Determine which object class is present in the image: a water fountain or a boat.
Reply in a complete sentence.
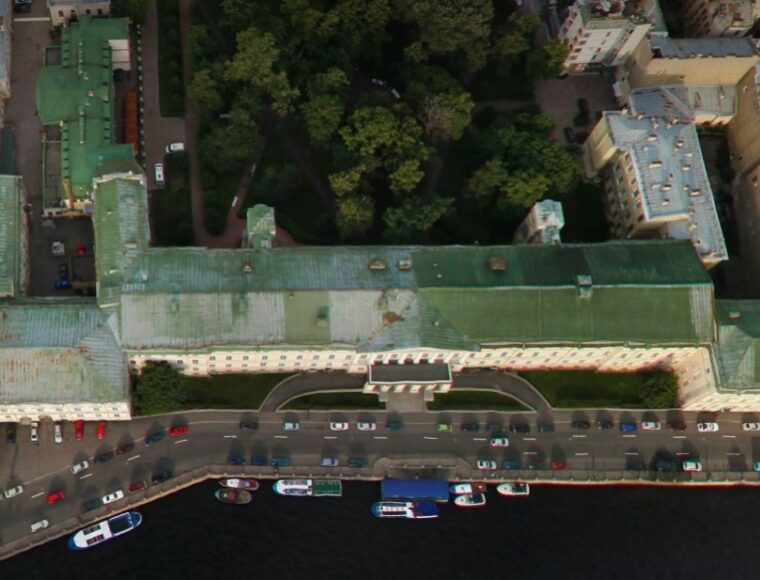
The image shows a boat.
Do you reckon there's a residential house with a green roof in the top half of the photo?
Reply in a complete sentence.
Yes, a residential house with a green roof shows up in the top half of the photo.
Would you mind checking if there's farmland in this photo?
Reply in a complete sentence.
No, the scene doesn't show any farmland.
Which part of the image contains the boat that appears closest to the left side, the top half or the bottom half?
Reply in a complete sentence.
It is in the bottom half that the boat that appears closest to the left side appears.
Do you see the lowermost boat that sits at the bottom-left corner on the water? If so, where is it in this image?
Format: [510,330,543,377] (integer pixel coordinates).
[70,513,142,550]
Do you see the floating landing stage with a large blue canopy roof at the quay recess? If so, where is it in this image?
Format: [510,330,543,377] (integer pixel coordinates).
[377,479,450,505]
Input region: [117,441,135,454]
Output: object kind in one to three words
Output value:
vehicle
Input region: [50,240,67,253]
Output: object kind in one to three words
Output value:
vehicle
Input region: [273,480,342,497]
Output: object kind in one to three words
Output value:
boat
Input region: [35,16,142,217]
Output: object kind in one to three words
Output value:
house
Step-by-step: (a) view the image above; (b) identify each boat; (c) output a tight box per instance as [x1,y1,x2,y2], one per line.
[219,480,259,491]
[453,494,487,506]
[273,480,342,497]
[496,484,530,495]
[450,484,485,495]
[370,502,438,519]
[70,513,142,550]
[215,489,252,504]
